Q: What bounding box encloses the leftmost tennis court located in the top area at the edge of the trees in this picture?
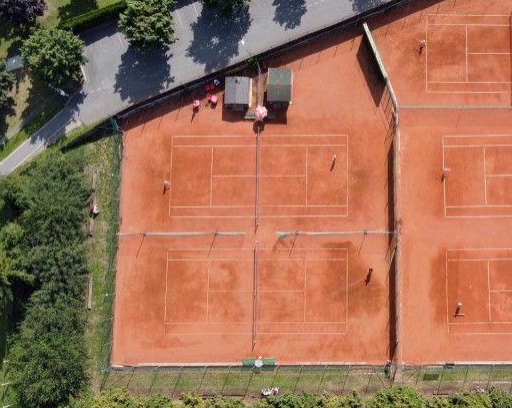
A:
[118,13,393,233]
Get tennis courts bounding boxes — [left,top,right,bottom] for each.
[118,13,393,233]
[390,109,512,232]
[393,232,512,366]
[387,0,512,109]
[110,233,396,366]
